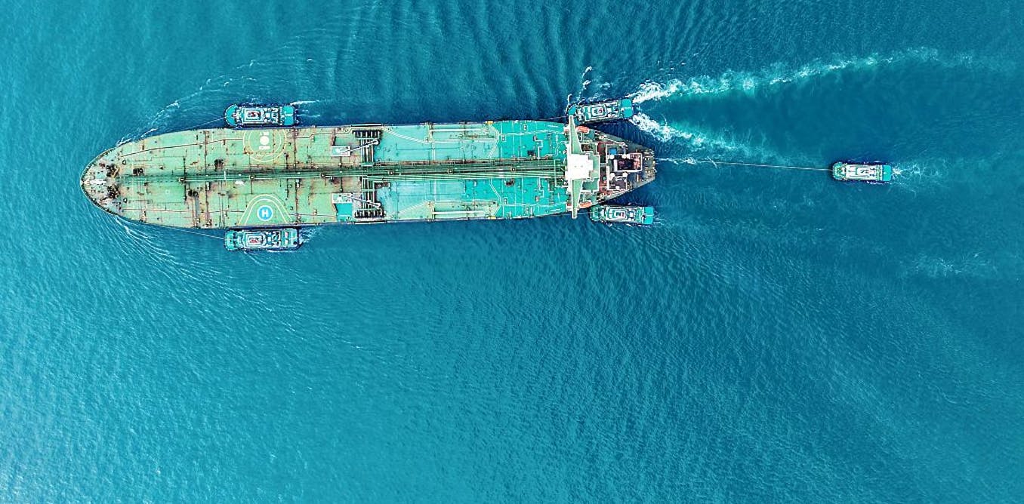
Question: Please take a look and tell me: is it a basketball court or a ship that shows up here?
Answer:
ship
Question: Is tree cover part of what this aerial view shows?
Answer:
No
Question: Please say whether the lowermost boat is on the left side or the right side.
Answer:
left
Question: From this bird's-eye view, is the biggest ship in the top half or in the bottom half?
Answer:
top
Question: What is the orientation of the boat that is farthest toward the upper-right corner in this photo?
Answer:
from side to side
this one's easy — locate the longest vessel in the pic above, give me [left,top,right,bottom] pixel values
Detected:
[79,115,656,228]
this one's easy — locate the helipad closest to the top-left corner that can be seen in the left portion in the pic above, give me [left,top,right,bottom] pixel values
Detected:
[242,128,286,162]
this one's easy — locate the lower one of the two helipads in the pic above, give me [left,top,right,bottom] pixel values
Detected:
[239,194,295,224]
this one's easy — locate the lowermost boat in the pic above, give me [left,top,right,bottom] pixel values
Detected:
[224,228,299,251]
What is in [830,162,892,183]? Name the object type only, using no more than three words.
boat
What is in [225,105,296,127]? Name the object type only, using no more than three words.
boat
